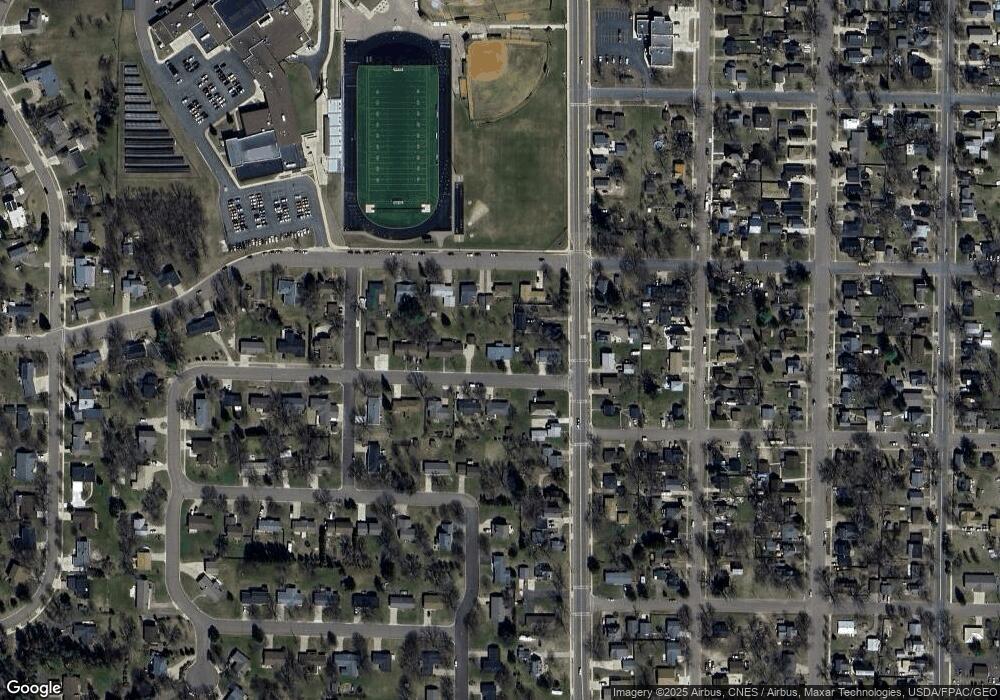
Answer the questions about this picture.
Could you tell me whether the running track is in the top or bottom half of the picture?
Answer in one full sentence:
Seen from above, the running track lies in the top half of the view.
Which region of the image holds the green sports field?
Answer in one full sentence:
The green sports field is located in the top region of the scene.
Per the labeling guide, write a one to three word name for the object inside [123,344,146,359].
house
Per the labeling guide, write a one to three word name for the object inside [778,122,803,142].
house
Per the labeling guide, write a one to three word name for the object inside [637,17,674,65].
building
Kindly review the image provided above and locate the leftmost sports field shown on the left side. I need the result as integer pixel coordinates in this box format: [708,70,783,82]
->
[357,65,438,229]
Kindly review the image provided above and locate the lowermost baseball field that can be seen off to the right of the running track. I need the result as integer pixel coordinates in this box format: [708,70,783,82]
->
[461,38,549,121]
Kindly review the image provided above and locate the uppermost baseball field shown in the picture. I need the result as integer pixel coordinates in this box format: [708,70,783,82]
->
[420,0,566,24]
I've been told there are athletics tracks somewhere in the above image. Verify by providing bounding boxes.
[344,31,452,239]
